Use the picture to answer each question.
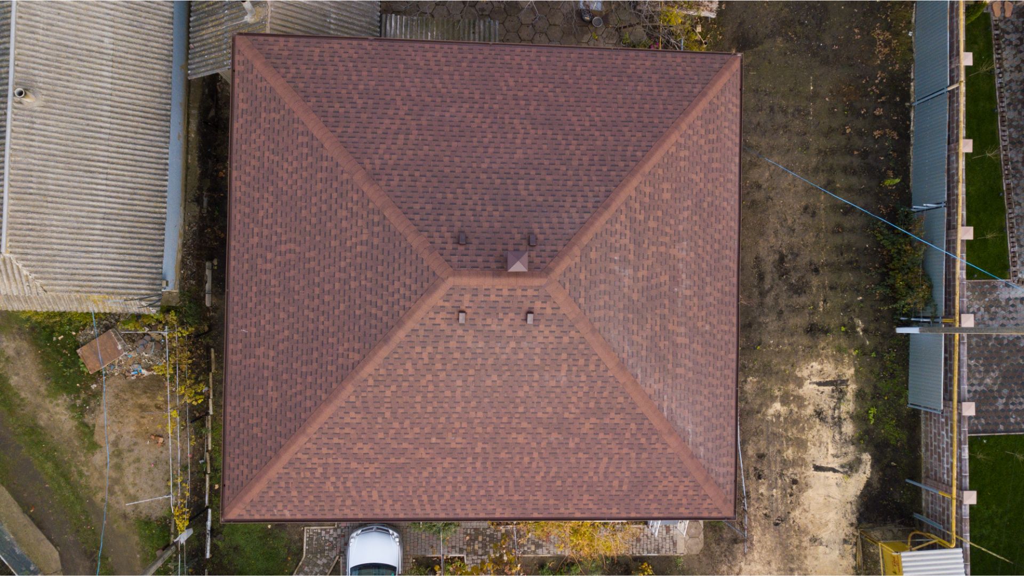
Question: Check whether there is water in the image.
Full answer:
No, water can't be seen anywhere here.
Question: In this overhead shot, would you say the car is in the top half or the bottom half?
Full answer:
The car is in the bottom half of the image.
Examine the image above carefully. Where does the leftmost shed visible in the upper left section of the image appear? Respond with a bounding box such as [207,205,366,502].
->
[0,0,190,314]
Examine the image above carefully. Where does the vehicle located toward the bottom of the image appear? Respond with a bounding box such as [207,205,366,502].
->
[340,523,411,576]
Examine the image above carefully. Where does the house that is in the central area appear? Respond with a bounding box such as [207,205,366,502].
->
[219,33,743,537]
